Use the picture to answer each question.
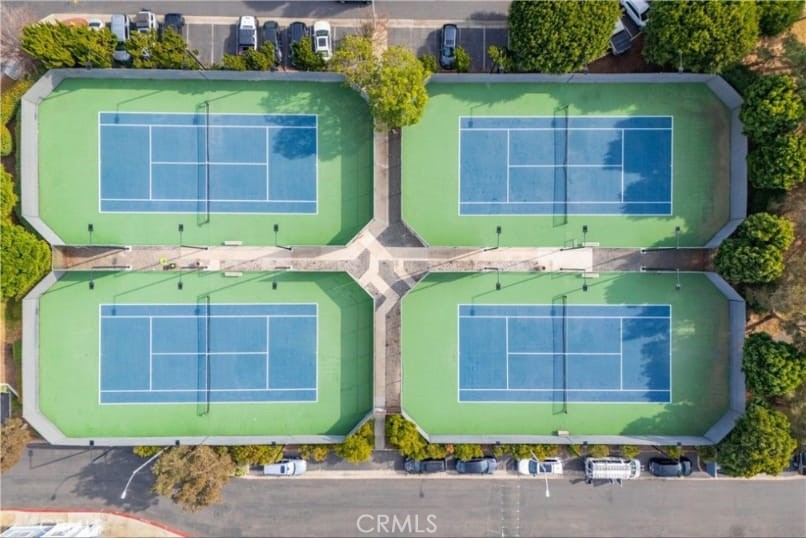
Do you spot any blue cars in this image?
Yes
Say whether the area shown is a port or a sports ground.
sports ground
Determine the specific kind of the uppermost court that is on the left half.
tennis court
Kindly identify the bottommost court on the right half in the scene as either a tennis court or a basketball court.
tennis court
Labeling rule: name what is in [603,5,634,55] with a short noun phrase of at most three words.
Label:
truck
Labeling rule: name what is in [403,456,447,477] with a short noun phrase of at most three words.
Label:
truck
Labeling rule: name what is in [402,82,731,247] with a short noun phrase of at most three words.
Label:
tennis court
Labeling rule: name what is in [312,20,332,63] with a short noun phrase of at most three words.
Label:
car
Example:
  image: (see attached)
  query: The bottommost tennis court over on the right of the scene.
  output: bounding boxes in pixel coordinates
[402,272,730,436]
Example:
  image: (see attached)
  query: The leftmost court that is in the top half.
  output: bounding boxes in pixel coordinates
[39,80,372,246]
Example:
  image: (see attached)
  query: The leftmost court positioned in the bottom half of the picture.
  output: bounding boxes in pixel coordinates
[39,271,372,436]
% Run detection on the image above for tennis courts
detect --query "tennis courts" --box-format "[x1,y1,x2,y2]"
[39,271,372,436]
[402,82,731,247]
[402,272,730,436]
[39,80,372,246]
